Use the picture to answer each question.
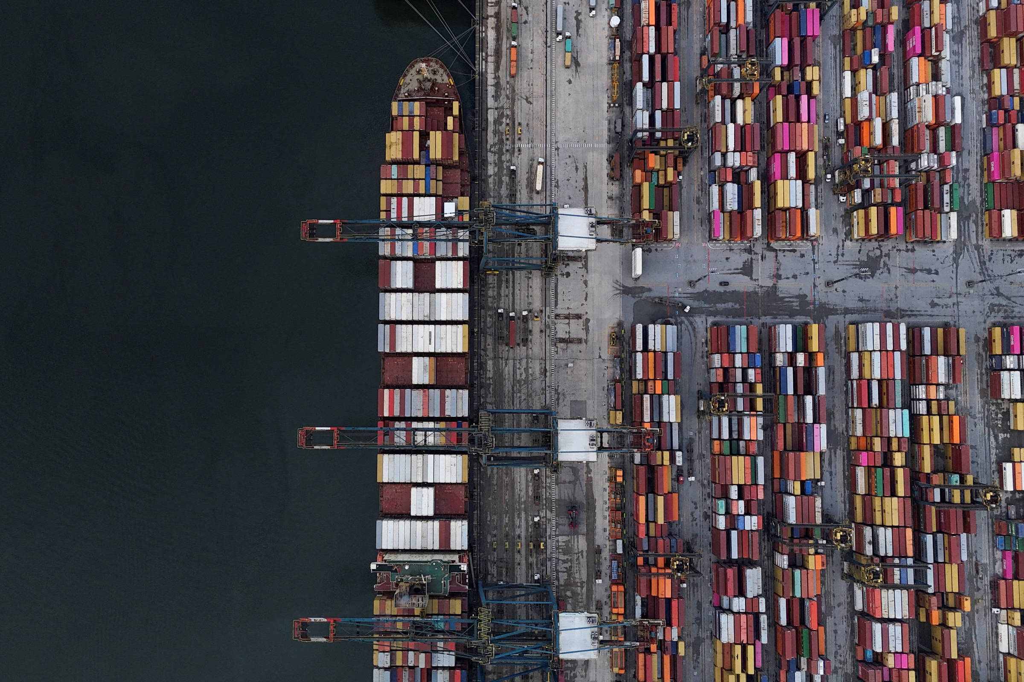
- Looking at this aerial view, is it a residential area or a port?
port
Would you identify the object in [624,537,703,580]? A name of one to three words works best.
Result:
crane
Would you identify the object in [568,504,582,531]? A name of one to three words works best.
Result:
work vehicle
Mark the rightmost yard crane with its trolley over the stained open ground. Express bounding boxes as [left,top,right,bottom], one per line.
[904,475,1000,511]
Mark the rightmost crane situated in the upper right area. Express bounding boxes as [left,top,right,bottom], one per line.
[830,153,920,195]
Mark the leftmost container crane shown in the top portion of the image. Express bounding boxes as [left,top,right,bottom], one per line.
[297,201,659,283]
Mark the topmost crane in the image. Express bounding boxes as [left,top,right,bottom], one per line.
[756,0,840,31]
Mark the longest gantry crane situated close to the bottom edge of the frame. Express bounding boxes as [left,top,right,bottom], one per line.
[291,563,663,666]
